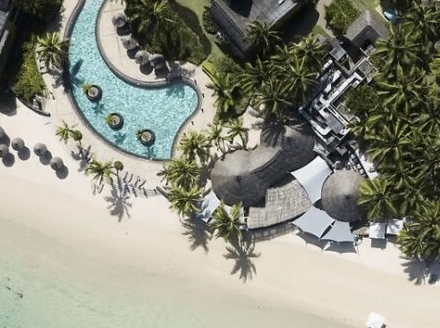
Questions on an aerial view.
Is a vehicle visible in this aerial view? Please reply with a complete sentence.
No, the photo shows no vehicle.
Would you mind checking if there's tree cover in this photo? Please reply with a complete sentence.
Yes, some tree cover is visible.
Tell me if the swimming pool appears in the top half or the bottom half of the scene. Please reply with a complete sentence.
You can find the swimming pool in the top half.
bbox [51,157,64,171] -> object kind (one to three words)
umbrella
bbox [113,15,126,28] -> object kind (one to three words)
umbrella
